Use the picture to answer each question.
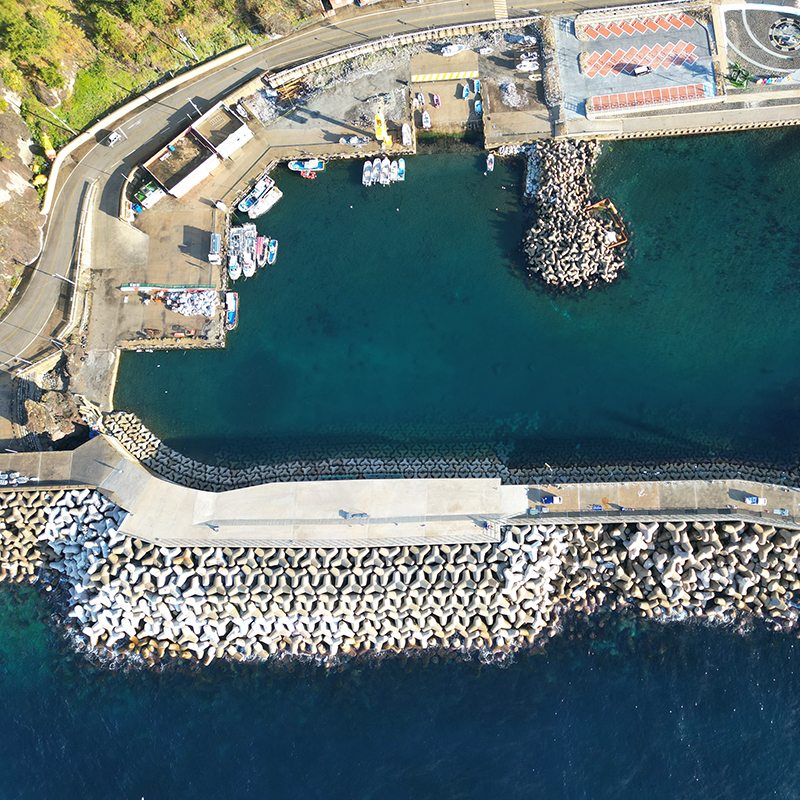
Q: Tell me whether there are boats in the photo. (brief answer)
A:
Yes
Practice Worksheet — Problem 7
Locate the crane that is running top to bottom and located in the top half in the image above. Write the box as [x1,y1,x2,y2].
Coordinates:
[373,97,392,148]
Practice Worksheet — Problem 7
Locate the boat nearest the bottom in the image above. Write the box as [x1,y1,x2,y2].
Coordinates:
[227,293,241,330]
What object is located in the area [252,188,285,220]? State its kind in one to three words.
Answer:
boat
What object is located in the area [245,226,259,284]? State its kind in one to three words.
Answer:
boat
